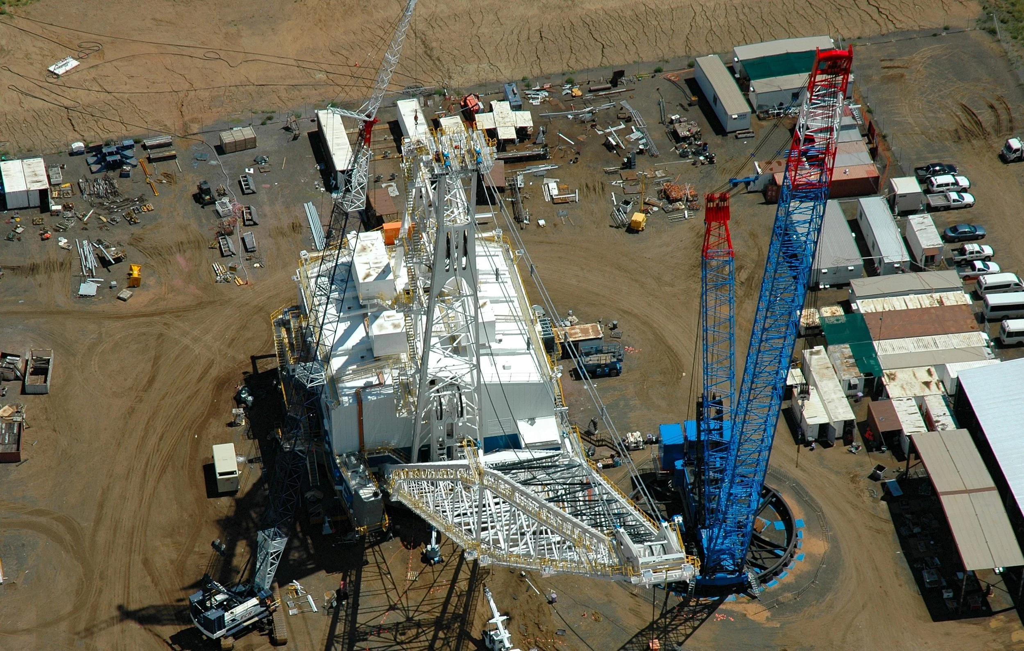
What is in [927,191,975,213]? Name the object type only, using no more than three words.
car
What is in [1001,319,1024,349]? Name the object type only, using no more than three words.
vehicle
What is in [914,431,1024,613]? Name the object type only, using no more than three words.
shed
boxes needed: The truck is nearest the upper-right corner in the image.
[1002,136,1024,161]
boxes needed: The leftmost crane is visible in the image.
[185,0,420,648]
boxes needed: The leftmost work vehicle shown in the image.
[195,177,219,208]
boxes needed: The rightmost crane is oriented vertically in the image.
[621,46,861,620]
